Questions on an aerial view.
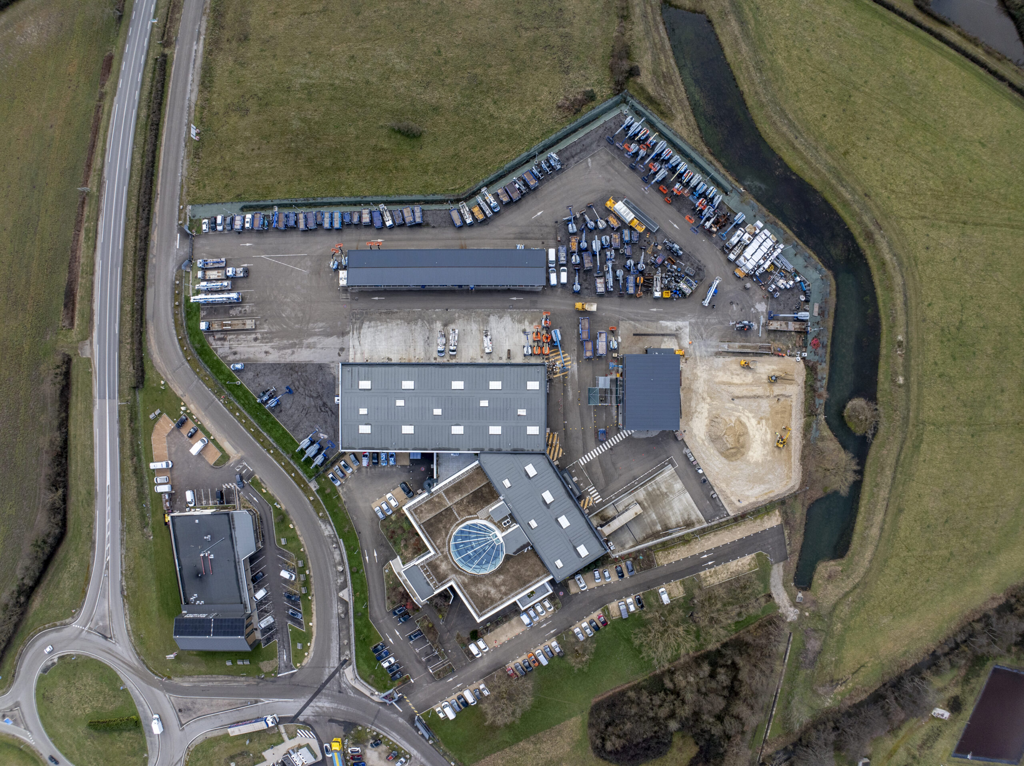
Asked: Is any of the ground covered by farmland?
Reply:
Yes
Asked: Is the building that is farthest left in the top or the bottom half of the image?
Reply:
bottom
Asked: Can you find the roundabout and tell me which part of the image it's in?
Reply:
bottom left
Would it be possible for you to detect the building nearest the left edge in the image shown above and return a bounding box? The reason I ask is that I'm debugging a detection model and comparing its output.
[170,509,260,651]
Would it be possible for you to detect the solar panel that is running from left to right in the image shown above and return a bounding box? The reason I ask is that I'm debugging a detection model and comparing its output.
[174,619,245,636]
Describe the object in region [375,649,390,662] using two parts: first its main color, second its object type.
blue vehicle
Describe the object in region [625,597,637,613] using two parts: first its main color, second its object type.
white vehicle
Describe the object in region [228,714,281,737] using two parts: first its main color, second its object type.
white truck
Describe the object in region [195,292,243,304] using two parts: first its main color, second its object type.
white vehicle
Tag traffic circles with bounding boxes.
[0,598,256,766]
